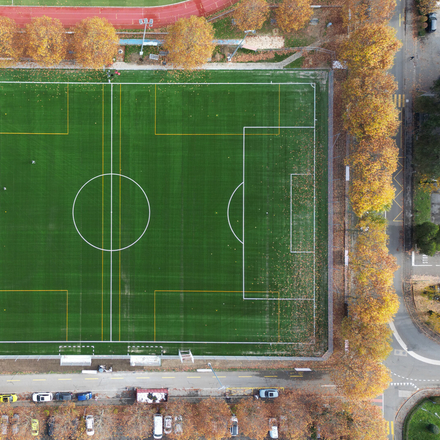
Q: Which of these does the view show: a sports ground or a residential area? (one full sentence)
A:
The picture captures a sports ground.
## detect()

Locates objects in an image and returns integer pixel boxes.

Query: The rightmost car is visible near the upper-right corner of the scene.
[424,13,438,34]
